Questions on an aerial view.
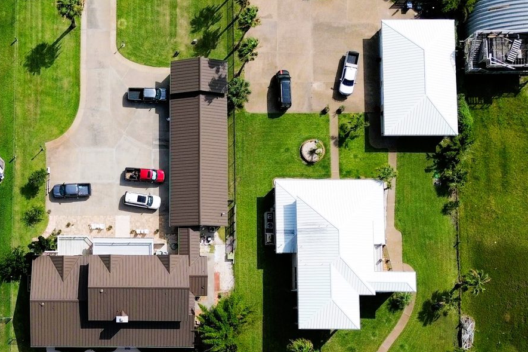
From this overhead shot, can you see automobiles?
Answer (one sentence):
Yes, you can see an automobile in this photo.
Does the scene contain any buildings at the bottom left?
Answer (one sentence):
Yes, there is a building at the bottom left.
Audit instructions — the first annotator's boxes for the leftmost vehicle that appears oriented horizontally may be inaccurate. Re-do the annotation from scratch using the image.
[51,182,92,200]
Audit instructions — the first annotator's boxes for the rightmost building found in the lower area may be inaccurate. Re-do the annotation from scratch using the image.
[273,179,416,330]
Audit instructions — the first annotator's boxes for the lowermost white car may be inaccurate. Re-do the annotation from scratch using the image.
[123,192,161,210]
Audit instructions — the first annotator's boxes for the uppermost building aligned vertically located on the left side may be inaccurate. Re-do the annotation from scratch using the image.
[169,57,228,226]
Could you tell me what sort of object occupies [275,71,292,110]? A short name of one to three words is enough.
car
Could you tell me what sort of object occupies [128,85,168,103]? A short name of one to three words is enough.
vehicle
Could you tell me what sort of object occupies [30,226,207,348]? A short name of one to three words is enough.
house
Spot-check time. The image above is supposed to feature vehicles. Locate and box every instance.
[51,182,92,200]
[124,167,166,184]
[128,85,168,103]
[123,192,161,210]
[338,52,359,96]
[275,71,292,110]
